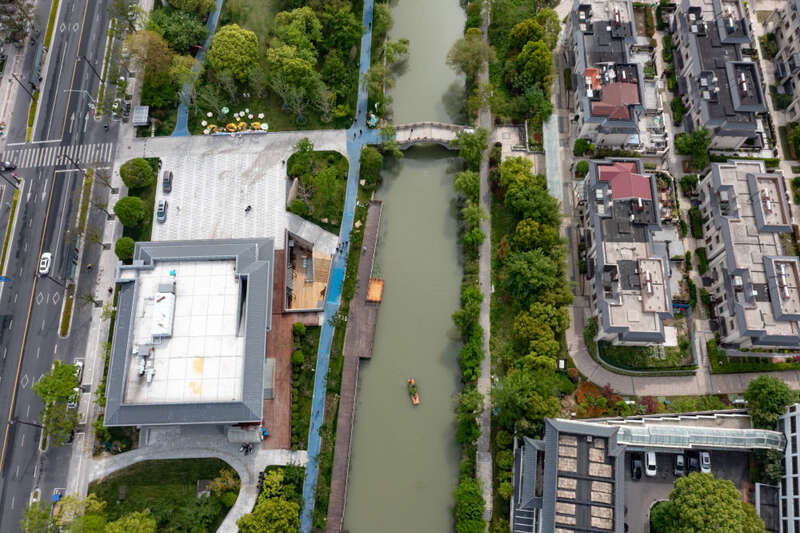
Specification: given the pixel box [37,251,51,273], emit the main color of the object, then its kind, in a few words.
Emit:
white car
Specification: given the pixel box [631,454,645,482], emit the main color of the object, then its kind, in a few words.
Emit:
black vehicle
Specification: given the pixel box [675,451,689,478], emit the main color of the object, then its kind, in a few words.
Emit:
gray car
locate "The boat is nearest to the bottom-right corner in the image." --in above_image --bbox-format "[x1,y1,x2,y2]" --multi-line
[409,375,422,406]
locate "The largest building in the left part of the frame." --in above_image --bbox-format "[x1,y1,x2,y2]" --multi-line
[103,238,274,427]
